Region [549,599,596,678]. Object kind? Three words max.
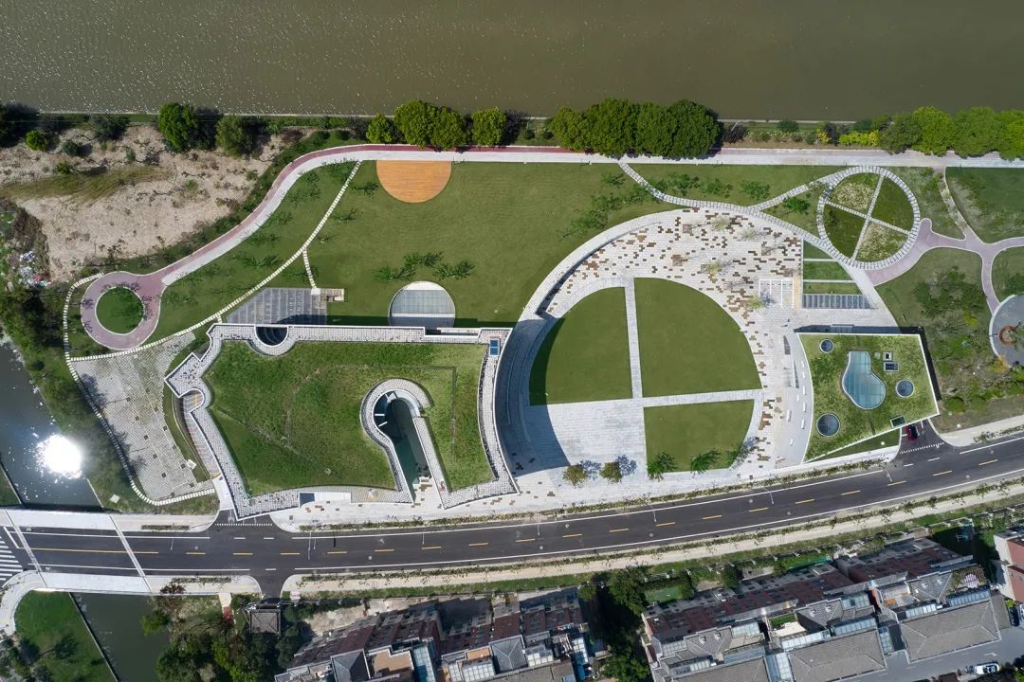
house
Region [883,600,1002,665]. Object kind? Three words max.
house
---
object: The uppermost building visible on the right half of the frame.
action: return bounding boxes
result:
[775,325,940,468]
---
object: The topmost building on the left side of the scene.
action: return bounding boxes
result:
[164,324,519,522]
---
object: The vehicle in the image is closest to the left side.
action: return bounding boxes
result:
[906,424,921,443]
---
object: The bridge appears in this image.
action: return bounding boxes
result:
[0,507,152,596]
